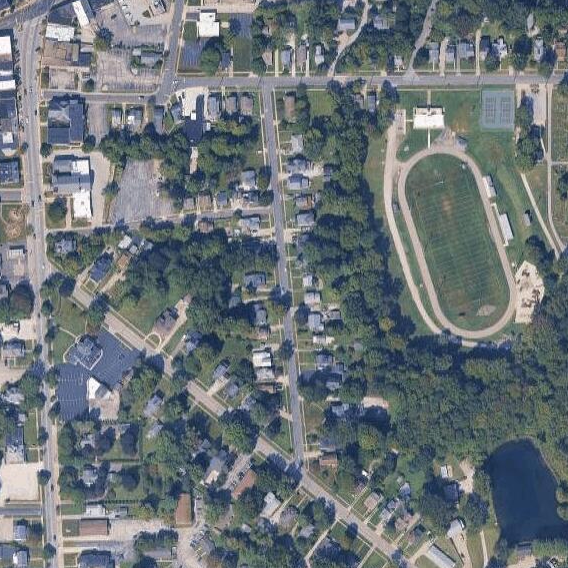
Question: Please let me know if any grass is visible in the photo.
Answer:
Yes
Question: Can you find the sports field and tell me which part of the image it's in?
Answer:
right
